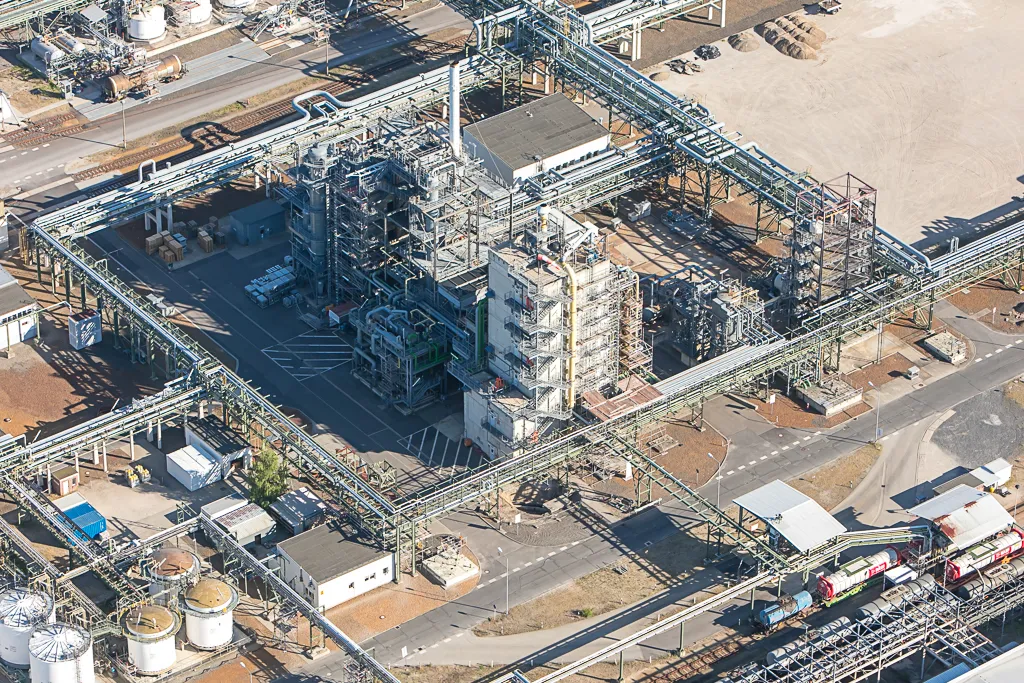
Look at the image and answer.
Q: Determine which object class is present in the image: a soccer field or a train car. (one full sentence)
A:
The image shows a train car.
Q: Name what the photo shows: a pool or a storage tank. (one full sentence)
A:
I can see a storage tank in this picture.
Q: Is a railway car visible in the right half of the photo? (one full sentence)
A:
Yes, a railway car appears in the right half of the photo.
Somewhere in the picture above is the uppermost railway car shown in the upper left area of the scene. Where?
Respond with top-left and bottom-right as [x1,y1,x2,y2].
[99,45,197,99]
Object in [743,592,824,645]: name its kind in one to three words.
rail car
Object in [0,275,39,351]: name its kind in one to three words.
building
